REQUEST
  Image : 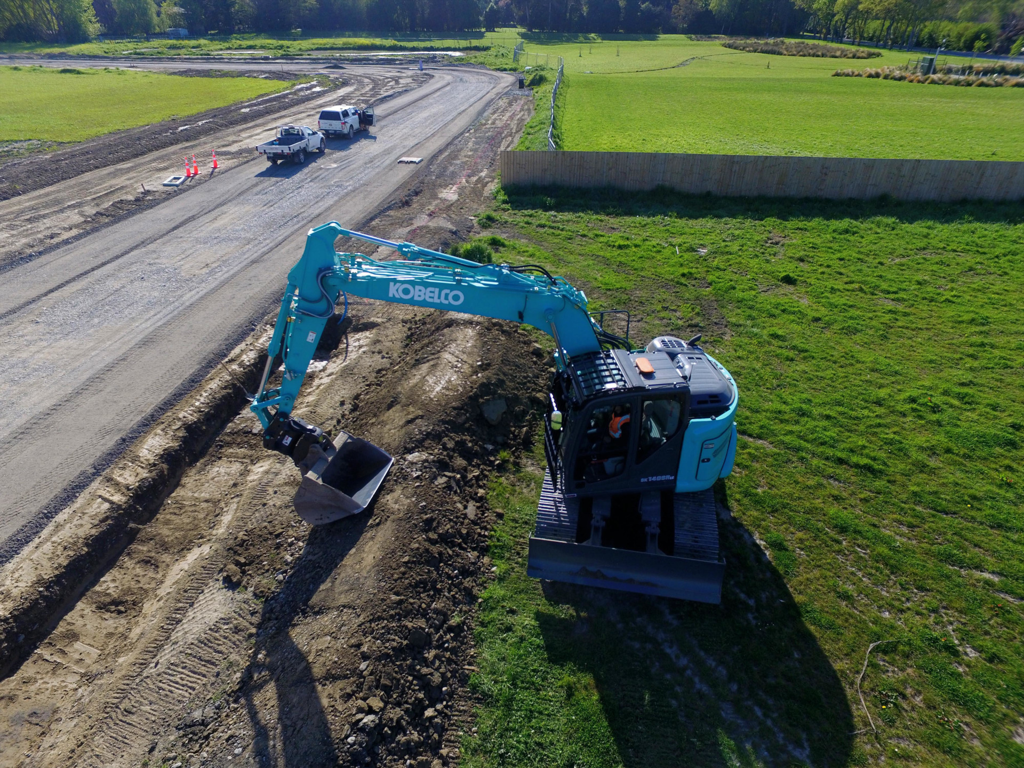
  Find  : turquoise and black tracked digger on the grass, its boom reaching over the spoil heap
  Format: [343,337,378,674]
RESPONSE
[247,214,742,604]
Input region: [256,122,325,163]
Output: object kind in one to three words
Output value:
truck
